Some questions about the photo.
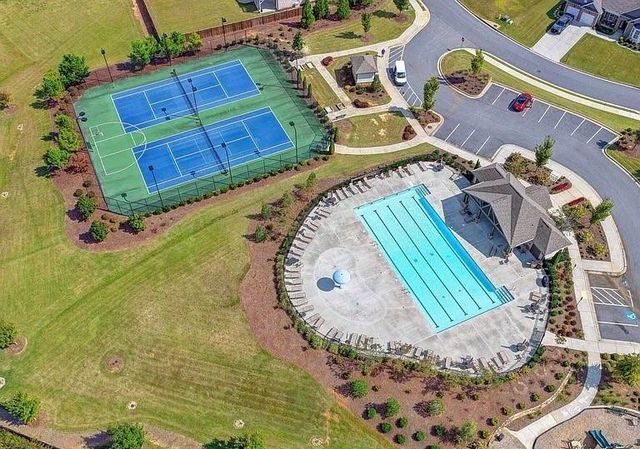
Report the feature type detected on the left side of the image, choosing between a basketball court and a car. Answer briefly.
basketball court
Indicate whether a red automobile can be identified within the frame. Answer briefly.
Yes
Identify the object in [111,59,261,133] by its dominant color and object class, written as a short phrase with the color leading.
blue tennis court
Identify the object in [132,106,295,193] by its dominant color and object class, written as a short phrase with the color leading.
blue tennis court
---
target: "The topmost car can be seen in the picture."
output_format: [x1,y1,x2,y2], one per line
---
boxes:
[552,12,574,33]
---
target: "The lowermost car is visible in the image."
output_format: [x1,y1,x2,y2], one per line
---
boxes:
[512,92,532,111]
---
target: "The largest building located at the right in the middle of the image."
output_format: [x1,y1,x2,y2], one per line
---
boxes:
[459,162,572,266]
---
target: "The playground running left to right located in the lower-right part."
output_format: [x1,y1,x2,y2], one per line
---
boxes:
[532,407,640,449]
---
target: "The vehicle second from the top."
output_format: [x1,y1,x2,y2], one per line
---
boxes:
[394,61,409,84]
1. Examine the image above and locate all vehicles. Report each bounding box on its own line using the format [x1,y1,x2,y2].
[394,61,409,84]
[512,92,532,111]
[552,12,574,33]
